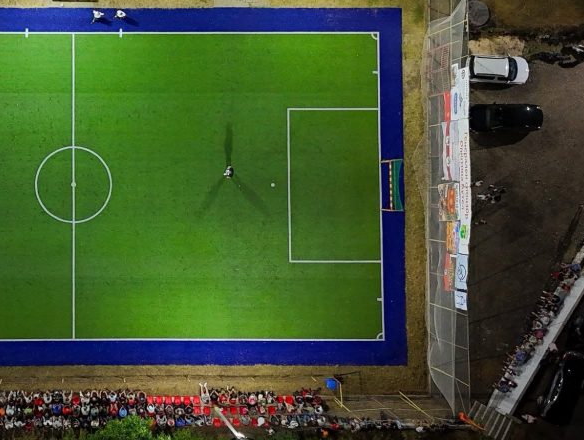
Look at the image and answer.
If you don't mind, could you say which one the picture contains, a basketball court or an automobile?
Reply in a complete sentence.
Of the two, only an automobile appears.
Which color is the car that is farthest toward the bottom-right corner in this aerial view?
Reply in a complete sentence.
The car that is farthest toward the bottom-right corner looks black in the image.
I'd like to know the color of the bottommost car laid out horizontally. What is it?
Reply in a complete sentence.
In this view, the bottommost car laid out horizontally is black.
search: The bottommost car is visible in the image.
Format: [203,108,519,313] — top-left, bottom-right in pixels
[533,351,584,427]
